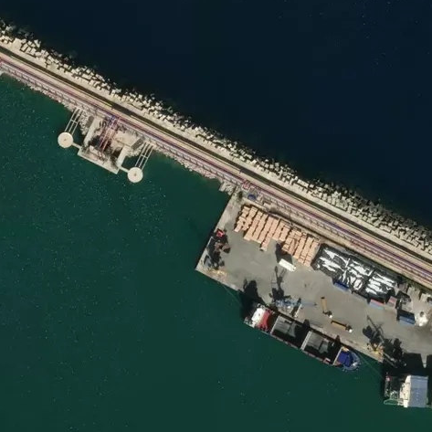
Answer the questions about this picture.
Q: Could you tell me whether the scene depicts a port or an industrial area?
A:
port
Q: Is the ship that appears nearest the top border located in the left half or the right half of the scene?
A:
right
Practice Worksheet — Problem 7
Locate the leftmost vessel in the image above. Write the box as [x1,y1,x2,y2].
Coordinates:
[245,303,360,368]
